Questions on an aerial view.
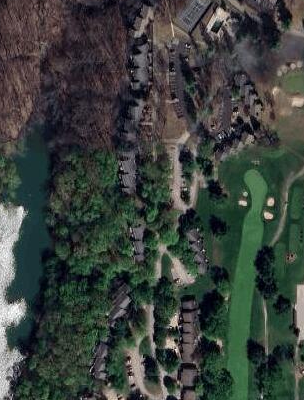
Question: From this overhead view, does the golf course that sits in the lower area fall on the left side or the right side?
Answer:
right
